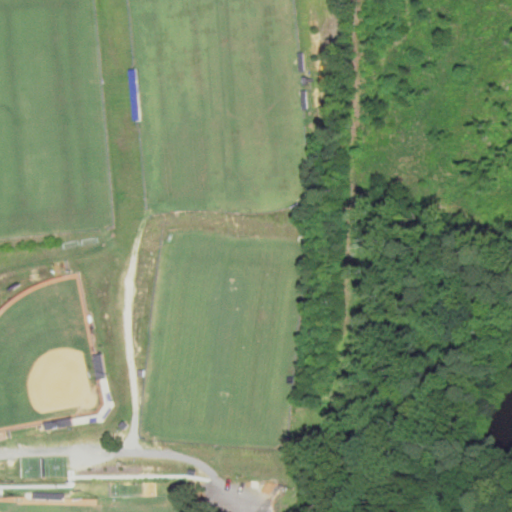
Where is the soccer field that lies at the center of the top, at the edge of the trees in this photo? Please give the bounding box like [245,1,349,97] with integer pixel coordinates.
[130,0,306,214]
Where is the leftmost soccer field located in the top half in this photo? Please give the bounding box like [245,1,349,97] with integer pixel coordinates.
[0,0,112,236]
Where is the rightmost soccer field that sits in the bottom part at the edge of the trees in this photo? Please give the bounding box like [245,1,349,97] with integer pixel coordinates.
[142,232,300,446]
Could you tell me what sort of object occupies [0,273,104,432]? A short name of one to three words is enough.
baseball field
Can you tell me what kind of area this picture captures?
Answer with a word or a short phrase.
sports ground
